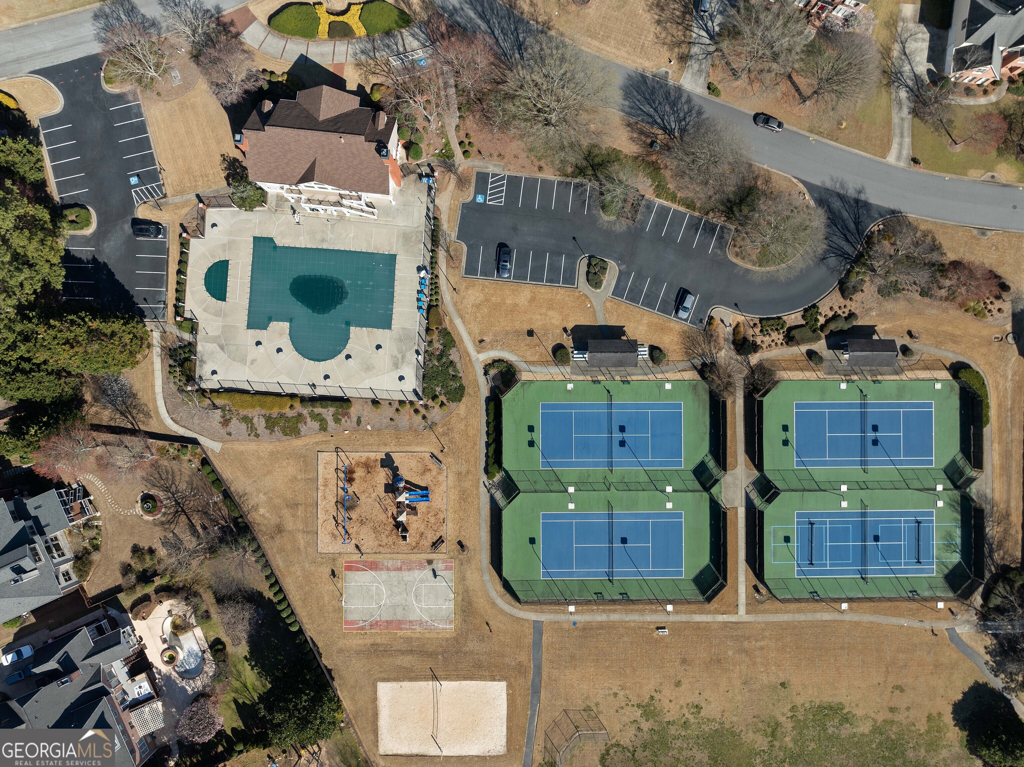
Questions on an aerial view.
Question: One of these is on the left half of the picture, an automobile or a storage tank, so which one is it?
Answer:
automobile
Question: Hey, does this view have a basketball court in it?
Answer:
Yes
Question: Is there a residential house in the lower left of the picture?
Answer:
Yes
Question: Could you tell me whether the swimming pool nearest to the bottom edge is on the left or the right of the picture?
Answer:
left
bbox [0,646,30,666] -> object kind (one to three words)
car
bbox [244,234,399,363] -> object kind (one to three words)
swimming pool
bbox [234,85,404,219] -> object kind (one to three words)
building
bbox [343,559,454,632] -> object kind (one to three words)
basketball court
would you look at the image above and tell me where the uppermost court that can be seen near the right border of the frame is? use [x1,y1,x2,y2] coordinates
[770,380,973,490]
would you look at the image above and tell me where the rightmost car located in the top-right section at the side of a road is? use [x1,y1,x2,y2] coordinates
[755,111,785,129]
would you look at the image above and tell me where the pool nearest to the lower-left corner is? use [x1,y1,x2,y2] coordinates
[159,613,205,679]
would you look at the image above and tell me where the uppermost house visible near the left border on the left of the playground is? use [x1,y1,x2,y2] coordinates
[0,482,105,624]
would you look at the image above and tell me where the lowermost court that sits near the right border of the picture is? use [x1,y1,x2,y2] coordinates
[757,471,973,600]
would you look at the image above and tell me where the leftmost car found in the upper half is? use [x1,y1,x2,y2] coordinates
[130,222,161,236]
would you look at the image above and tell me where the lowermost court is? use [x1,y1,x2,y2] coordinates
[378,682,506,756]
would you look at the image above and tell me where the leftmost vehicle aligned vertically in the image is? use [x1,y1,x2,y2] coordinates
[497,249,510,278]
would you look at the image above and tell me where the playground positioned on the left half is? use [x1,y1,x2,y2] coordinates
[317,451,447,554]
